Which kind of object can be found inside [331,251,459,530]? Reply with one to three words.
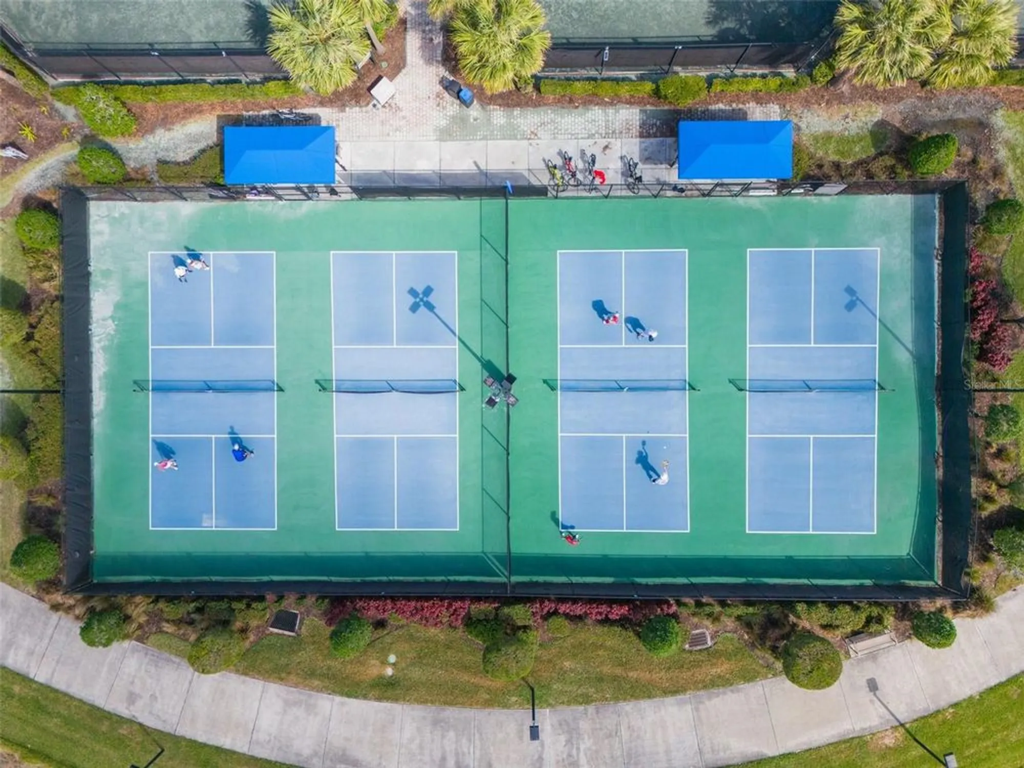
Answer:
sports court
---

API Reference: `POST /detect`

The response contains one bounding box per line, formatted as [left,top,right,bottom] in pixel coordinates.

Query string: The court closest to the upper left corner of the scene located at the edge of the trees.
[0,0,328,78]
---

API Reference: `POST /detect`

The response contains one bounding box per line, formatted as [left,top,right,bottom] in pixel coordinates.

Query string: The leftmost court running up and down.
[149,251,277,530]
